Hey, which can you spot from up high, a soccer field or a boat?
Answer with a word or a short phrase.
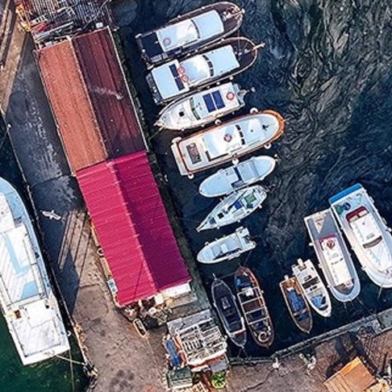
boat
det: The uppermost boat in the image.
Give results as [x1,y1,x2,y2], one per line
[136,5,245,70]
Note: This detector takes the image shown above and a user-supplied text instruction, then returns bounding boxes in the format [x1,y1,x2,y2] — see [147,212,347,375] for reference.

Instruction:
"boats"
[200,155,279,197]
[198,182,268,230]
[293,260,332,316]
[329,182,392,289]
[136,5,245,70]
[280,277,310,333]
[171,112,286,177]
[214,274,246,346]
[198,228,256,261]
[0,175,71,364]
[147,35,265,106]
[236,267,272,346]
[304,208,357,301]
[155,83,255,128]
